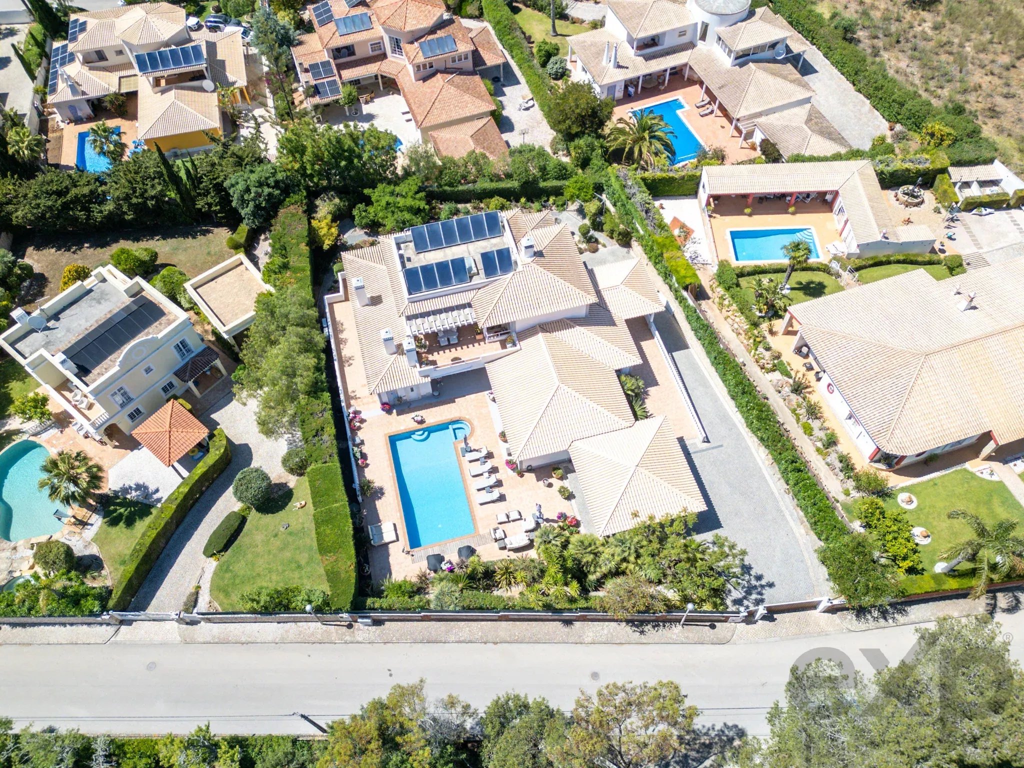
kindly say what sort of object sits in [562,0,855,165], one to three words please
house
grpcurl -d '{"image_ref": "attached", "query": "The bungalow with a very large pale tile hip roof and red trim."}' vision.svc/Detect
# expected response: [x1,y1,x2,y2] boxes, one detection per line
[781,257,1024,470]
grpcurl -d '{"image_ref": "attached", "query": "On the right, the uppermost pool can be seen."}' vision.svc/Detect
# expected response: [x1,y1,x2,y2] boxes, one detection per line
[653,95,714,166]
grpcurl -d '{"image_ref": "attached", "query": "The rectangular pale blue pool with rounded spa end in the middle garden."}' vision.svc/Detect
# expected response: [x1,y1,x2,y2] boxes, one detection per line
[384,414,481,555]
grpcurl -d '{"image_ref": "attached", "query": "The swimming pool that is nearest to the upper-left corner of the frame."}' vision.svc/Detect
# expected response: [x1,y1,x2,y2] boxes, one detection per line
[67,124,123,169]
